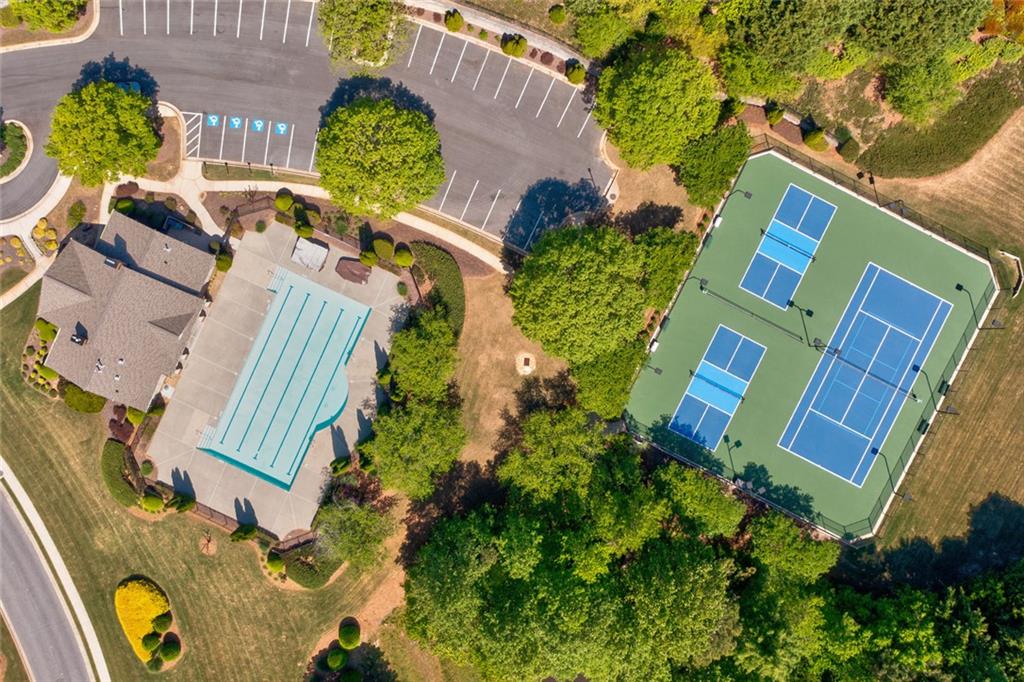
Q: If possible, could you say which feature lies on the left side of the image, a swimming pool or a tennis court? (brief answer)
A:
swimming pool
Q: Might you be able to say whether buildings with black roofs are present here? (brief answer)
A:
No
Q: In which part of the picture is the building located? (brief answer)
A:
left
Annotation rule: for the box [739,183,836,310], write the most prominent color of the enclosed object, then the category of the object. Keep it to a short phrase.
blue sports court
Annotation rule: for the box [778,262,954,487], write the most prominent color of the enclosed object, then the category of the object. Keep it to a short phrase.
blue tennis court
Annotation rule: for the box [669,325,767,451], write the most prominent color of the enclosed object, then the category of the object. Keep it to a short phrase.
blue sports court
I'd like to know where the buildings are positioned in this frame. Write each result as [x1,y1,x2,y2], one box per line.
[39,209,216,412]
